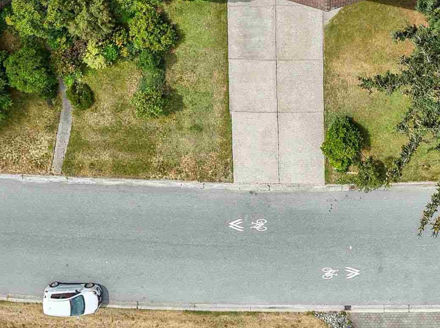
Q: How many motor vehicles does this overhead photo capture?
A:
one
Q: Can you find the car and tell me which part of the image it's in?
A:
bottom left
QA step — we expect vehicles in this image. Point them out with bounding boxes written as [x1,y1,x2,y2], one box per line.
[39,282,101,316]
